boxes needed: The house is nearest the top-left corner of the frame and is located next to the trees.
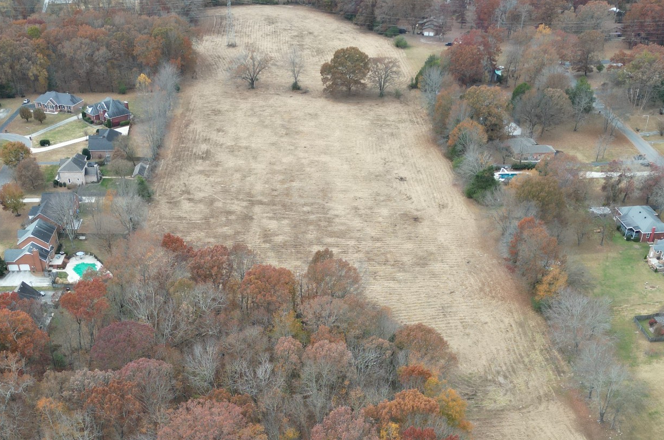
[31,90,84,111]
